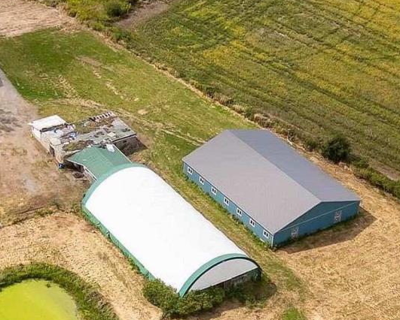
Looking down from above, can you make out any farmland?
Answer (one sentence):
Yes, farmland shows up in the scene.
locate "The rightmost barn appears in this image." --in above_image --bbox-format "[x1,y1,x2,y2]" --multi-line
[182,128,362,246]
